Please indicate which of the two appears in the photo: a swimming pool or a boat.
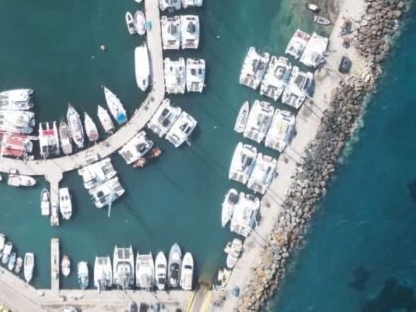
boat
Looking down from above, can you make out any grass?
No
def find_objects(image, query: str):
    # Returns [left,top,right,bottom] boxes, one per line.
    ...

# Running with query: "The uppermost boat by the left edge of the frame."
[0,89,33,115]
